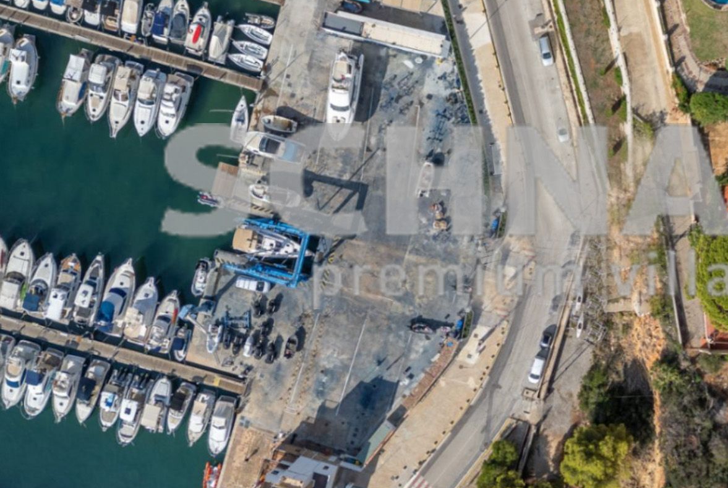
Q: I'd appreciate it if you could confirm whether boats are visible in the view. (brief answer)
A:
Yes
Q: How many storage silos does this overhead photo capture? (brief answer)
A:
zero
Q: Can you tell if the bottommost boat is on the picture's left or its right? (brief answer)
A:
left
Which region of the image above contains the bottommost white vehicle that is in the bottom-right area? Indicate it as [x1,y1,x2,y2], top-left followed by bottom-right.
[525,354,546,390]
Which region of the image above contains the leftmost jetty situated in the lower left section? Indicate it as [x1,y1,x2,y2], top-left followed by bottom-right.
[0,315,244,394]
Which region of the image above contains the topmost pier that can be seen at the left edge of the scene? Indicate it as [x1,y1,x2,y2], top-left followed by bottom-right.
[0,3,261,89]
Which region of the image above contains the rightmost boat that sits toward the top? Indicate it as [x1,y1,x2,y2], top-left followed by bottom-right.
[413,162,431,203]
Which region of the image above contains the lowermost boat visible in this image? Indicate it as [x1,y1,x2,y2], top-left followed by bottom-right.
[202,455,225,488]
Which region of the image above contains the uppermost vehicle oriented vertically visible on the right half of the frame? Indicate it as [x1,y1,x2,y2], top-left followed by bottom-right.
[536,33,553,66]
